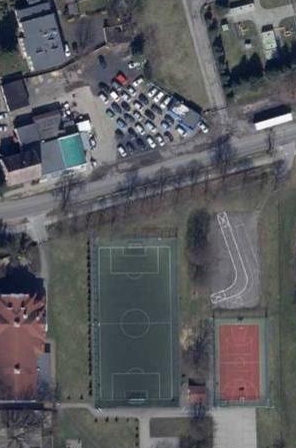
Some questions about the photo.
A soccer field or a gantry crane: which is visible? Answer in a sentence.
The image shows a soccer field.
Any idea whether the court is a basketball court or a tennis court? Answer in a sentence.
Looking closely, the court is a basketball court.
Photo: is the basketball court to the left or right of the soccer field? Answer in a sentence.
It is on the right side of the soccer field that the basketball court is positioned.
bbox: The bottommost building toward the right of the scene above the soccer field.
[166,96,202,129]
